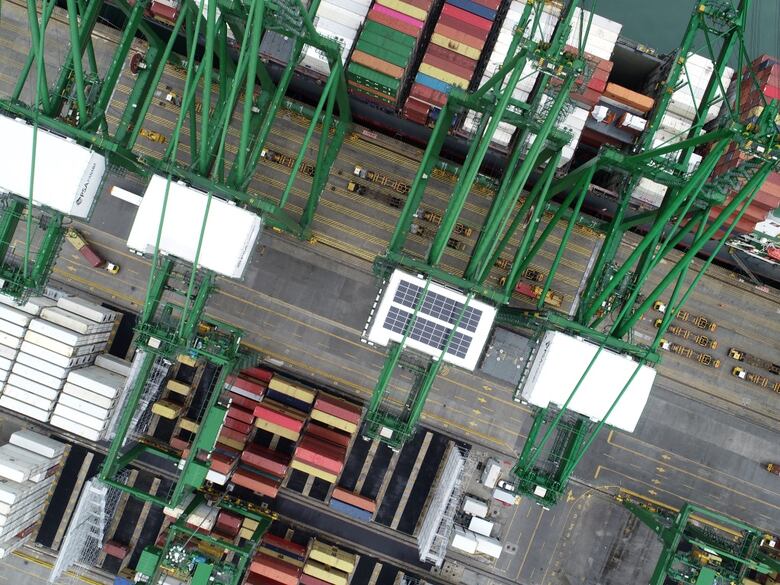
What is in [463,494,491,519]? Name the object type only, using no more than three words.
building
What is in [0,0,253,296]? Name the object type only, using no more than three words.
container crane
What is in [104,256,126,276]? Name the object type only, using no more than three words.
vehicle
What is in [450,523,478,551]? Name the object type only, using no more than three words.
building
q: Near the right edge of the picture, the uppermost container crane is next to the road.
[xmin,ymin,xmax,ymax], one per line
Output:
[496,0,780,504]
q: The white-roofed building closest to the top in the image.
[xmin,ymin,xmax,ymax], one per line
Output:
[479,452,503,489]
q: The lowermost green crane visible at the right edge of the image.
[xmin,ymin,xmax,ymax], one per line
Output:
[621,498,775,585]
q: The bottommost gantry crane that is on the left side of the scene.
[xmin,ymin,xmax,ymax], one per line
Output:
[137,484,283,585]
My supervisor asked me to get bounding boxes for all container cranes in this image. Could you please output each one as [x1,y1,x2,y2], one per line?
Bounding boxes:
[621,498,775,585]
[137,484,283,585]
[0,0,253,296]
[353,0,607,446]
[127,0,361,358]
[99,305,272,510]
[496,0,780,504]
